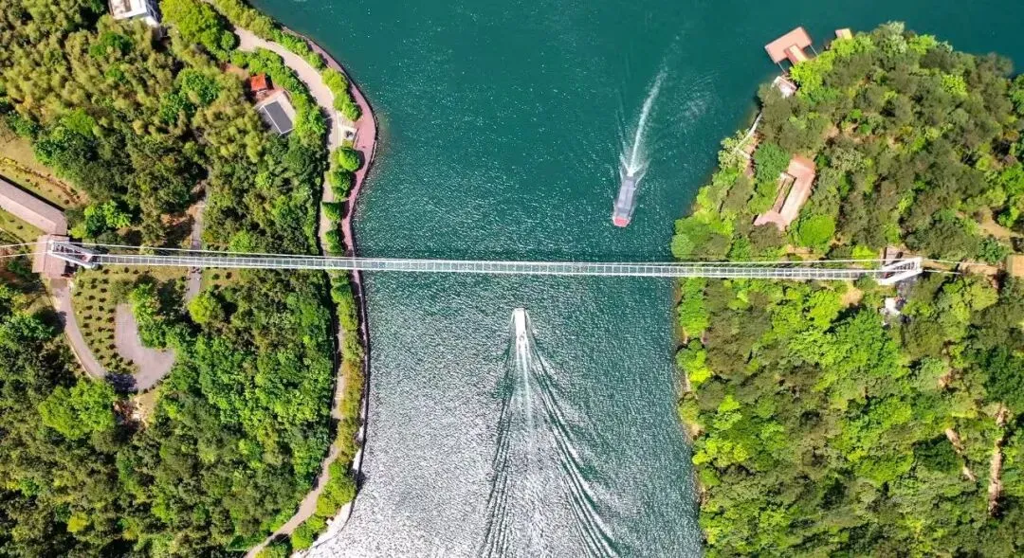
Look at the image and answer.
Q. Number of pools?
0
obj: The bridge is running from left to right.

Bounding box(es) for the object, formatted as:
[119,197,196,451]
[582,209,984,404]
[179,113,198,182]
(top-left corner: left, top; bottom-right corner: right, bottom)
[0,240,991,288]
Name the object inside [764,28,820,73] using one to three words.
pier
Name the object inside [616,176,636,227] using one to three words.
boat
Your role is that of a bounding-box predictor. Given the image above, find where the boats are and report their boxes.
[516,308,525,333]
[616,176,636,227]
